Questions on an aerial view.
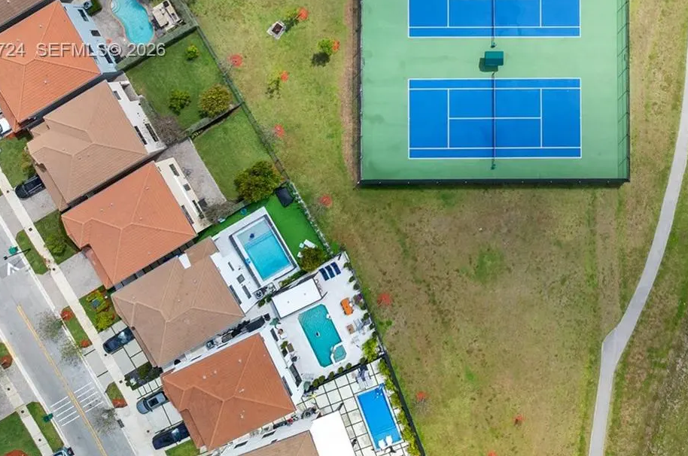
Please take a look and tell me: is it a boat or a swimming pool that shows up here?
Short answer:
swimming pool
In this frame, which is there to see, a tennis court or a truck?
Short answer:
tennis court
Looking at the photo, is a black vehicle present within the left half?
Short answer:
Yes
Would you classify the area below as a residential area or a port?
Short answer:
residential area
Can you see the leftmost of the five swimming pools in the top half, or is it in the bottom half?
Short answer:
top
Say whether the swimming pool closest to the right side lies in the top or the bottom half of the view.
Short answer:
bottom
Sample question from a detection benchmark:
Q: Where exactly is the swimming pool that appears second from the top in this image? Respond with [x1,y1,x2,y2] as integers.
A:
[232,215,295,286]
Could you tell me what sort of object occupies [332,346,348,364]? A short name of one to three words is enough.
swimming pool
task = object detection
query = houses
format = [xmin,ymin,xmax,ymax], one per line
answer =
[111,232,256,369]
[61,160,212,290]
[160,323,303,451]
[27,81,163,212]
[212,415,328,456]
[0,0,114,134]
